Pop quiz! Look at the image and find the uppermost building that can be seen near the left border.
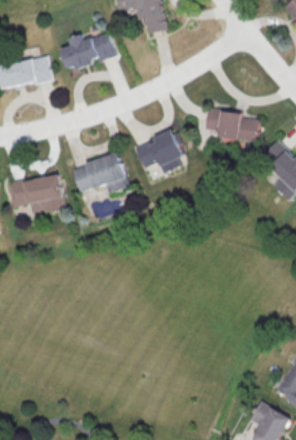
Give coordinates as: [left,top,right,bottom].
[0,54,55,90]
